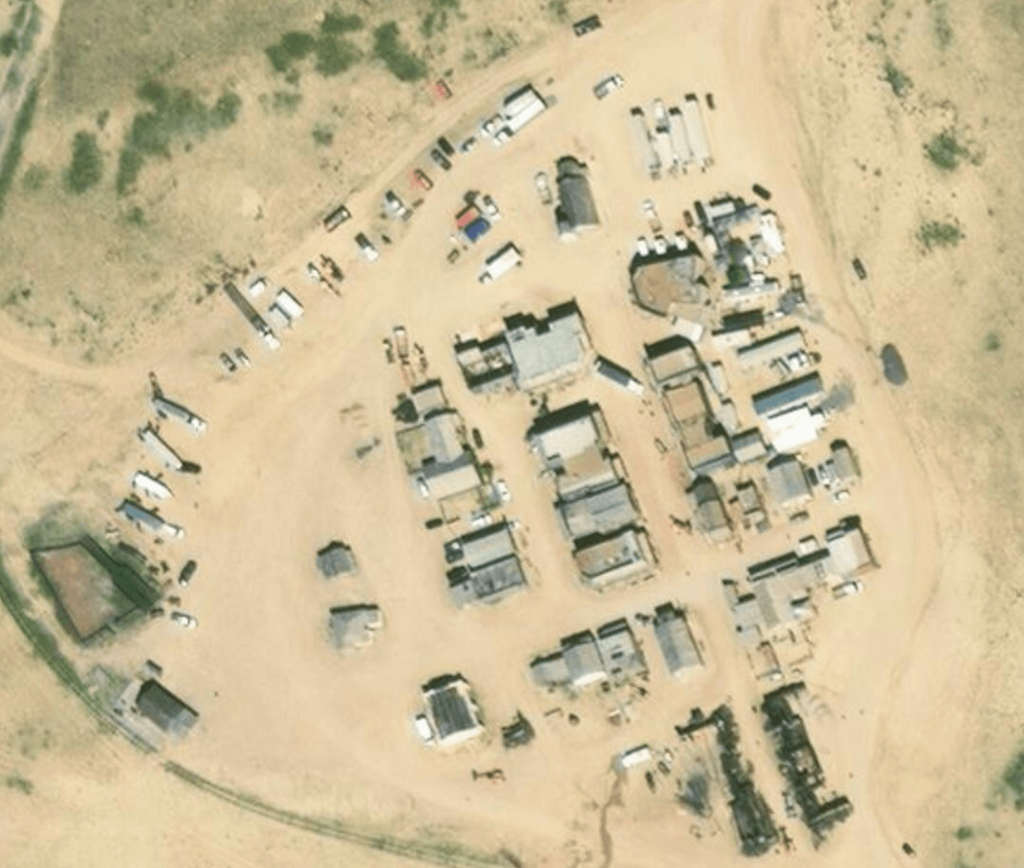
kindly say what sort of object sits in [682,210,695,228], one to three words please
vehicle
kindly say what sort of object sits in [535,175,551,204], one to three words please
vehicle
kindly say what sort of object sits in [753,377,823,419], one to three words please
barn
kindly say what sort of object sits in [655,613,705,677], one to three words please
shed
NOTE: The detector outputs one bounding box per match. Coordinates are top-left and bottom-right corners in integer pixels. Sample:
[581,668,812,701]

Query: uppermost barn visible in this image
[557,164,599,236]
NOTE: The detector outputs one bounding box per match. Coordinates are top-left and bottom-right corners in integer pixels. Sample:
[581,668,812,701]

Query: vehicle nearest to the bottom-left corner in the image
[171,611,198,629]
